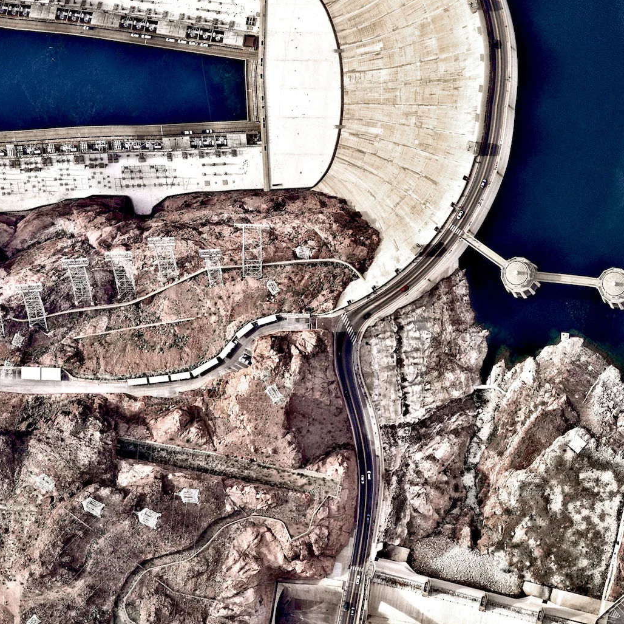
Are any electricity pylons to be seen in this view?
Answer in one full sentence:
Yes, there is an electricity pylon in the image.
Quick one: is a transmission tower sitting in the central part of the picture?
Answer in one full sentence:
Yes, there is a transmission tower in the central part of the picture.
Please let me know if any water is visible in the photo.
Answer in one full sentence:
Yes, water shows up in the scene.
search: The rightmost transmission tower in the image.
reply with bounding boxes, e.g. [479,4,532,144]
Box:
[294,244,312,265]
